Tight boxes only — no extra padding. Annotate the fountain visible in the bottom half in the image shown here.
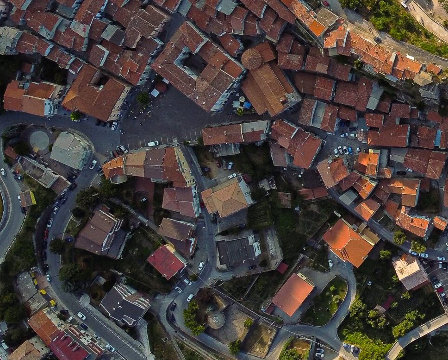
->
[207,311,226,330]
